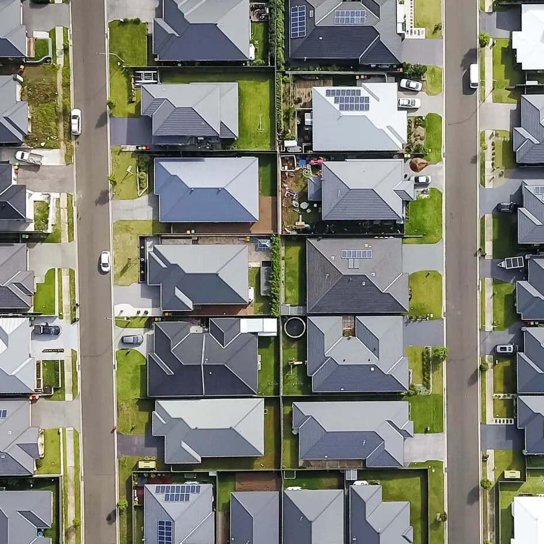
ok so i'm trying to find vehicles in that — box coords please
[16,150,44,164]
[495,344,517,354]
[496,202,518,212]
[410,175,432,185]
[69,109,83,134]
[99,252,110,271]
[35,321,62,335]
[120,334,144,345]
[468,62,479,89]
[400,79,424,92]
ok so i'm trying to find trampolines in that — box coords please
[284,317,307,338]
[311,220,327,236]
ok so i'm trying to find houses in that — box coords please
[148,244,249,311]
[152,399,265,465]
[0,317,39,394]
[517,179,544,244]
[312,83,408,152]
[513,95,544,165]
[0,0,30,59]
[516,256,544,319]
[282,485,344,544]
[517,327,544,393]
[0,164,32,220]
[511,495,544,544]
[0,75,32,144]
[307,160,415,220]
[307,237,409,313]
[152,0,250,61]
[350,480,413,544]
[154,157,259,223]
[292,401,413,467]
[141,83,238,147]
[307,316,409,392]
[511,3,544,70]
[0,243,37,309]
[288,0,402,66]
[0,491,56,544]
[517,395,544,454]
[148,318,278,396]
[143,483,215,544]
[0,400,42,476]
[231,492,279,544]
